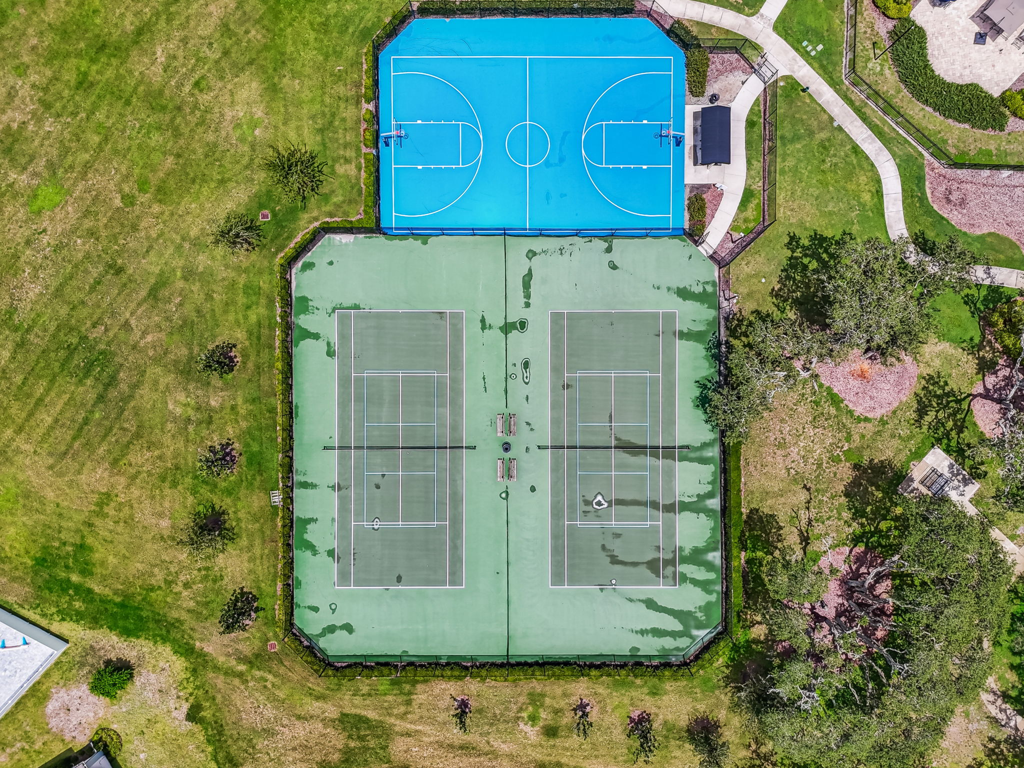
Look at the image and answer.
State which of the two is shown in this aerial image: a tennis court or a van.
tennis court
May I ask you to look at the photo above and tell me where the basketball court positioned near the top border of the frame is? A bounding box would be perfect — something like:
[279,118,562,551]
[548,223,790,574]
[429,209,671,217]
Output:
[378,16,686,236]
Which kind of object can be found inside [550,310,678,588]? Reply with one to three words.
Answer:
tennis court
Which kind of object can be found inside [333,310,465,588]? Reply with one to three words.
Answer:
tennis court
